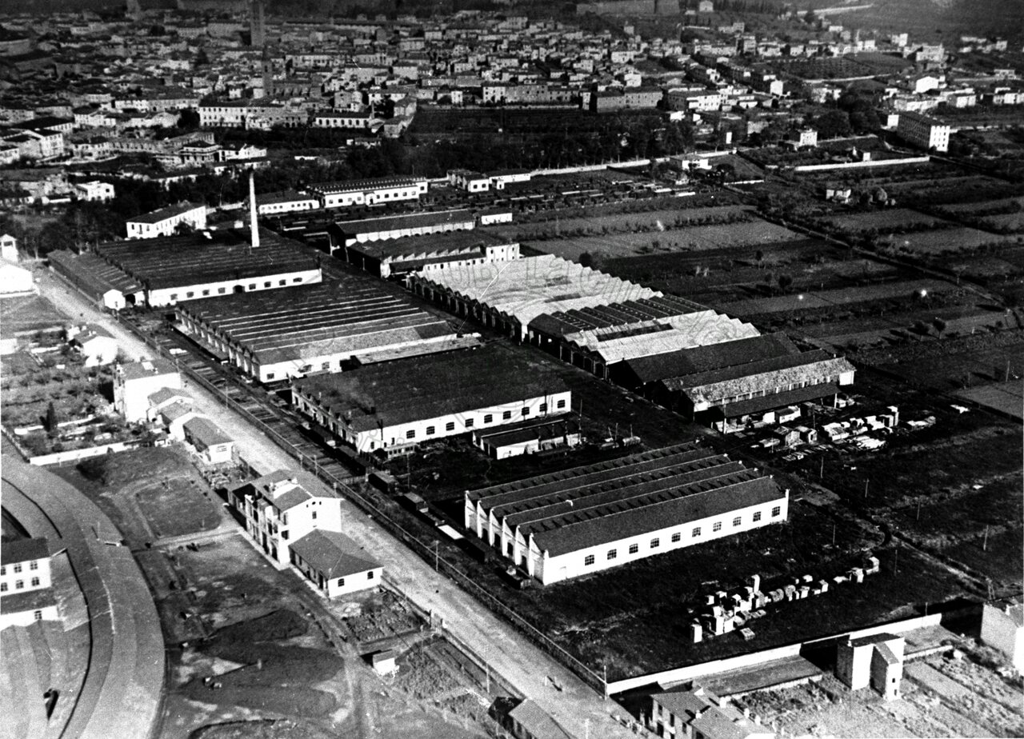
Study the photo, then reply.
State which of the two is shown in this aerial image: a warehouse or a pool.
warehouse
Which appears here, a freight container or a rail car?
rail car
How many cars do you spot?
0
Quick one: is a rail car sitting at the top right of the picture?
No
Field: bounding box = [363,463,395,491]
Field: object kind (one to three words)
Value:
rail car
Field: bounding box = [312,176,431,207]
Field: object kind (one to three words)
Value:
building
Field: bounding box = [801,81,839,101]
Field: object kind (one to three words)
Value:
house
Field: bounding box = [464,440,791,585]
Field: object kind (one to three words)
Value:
warehouse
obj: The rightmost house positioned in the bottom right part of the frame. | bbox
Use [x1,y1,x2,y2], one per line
[979,603,1024,668]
